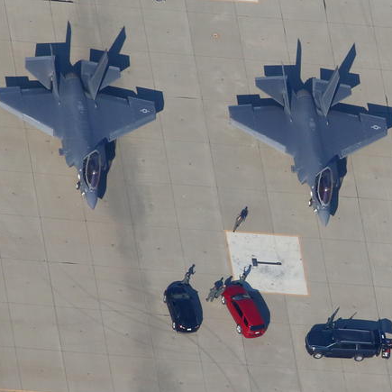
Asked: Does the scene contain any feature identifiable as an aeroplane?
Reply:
Yes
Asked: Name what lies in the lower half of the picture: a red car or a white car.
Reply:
red car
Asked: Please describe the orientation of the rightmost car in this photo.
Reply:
horizontally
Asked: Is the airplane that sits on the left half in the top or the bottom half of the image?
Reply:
top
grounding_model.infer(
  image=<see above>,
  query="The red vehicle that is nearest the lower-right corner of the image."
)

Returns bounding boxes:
[221,288,264,340]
